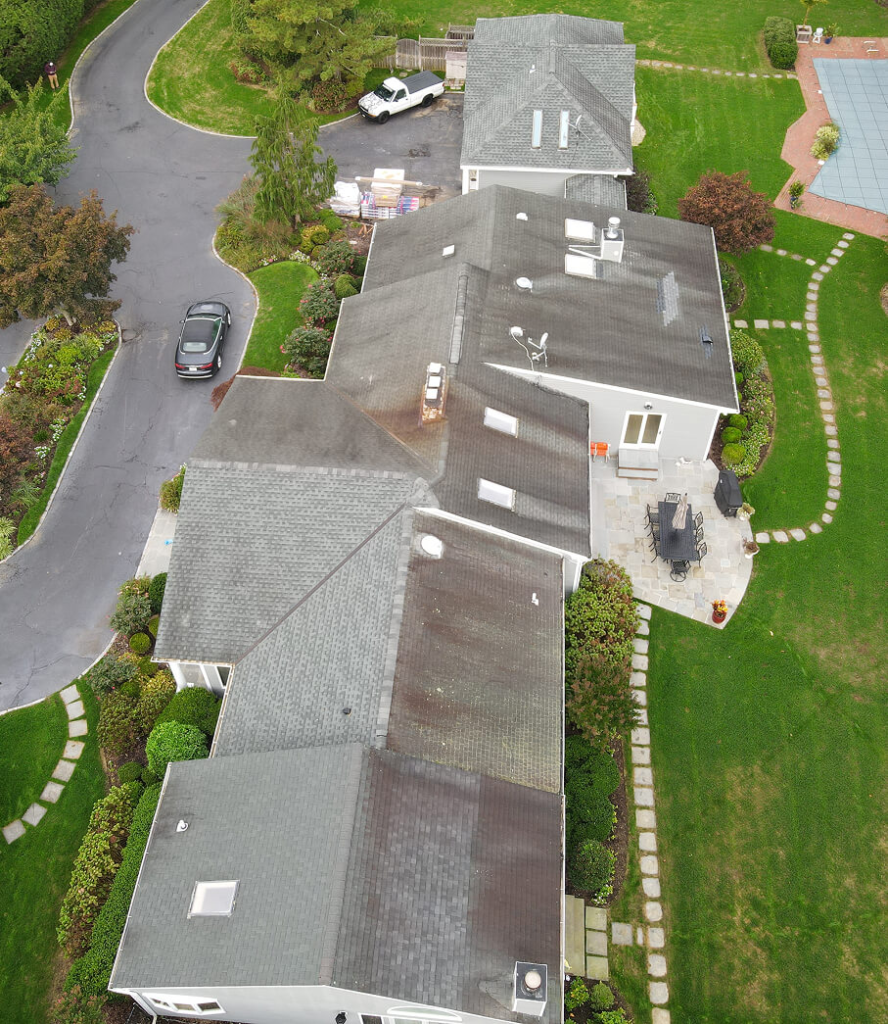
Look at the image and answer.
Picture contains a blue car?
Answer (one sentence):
No, the scene contains no blue car.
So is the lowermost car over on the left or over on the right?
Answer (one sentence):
You can find the lowermost car on the left side of the picture.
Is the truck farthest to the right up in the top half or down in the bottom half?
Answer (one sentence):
The truck farthest to the right sits in the top half of the picture.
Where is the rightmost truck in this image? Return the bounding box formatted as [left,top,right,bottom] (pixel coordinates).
[351,71,445,124]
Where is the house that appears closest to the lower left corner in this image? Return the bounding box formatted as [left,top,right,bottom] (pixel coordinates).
[99,186,741,1024]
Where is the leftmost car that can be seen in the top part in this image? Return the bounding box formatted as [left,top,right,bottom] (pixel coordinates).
[174,293,233,372]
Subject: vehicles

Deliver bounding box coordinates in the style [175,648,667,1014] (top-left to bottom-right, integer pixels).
[174,293,233,372]
[351,71,445,124]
